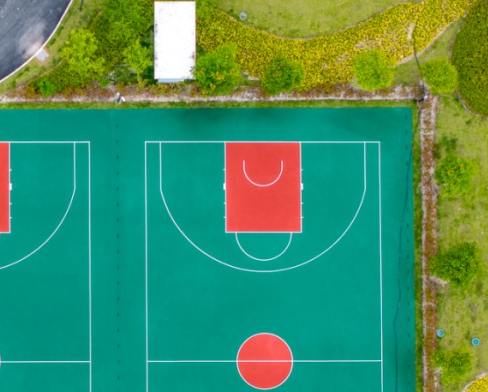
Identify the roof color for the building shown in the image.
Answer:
white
